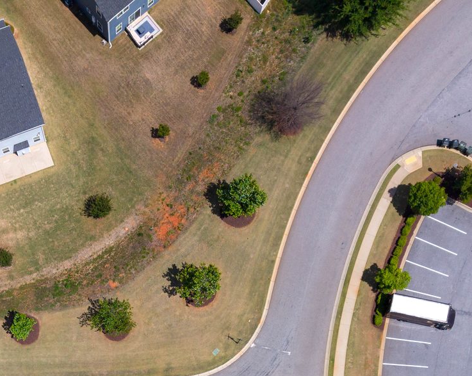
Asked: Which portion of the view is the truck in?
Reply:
bottom right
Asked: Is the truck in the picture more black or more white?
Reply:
white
